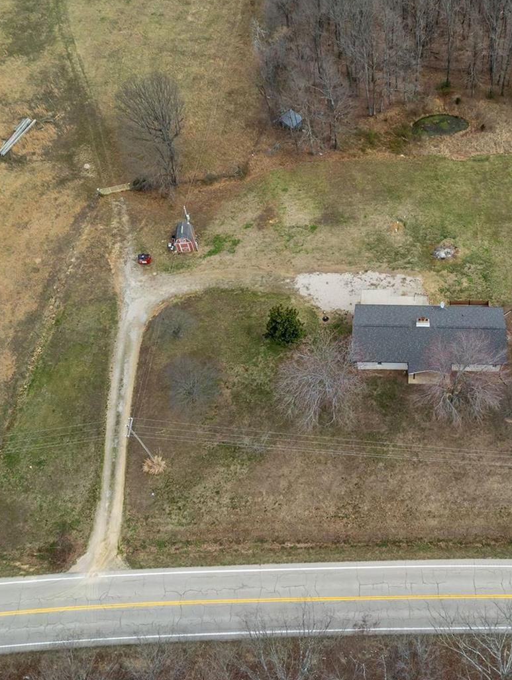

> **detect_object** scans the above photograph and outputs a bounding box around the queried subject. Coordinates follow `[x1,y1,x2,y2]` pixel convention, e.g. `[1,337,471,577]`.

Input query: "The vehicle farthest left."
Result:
[137,250,151,264]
